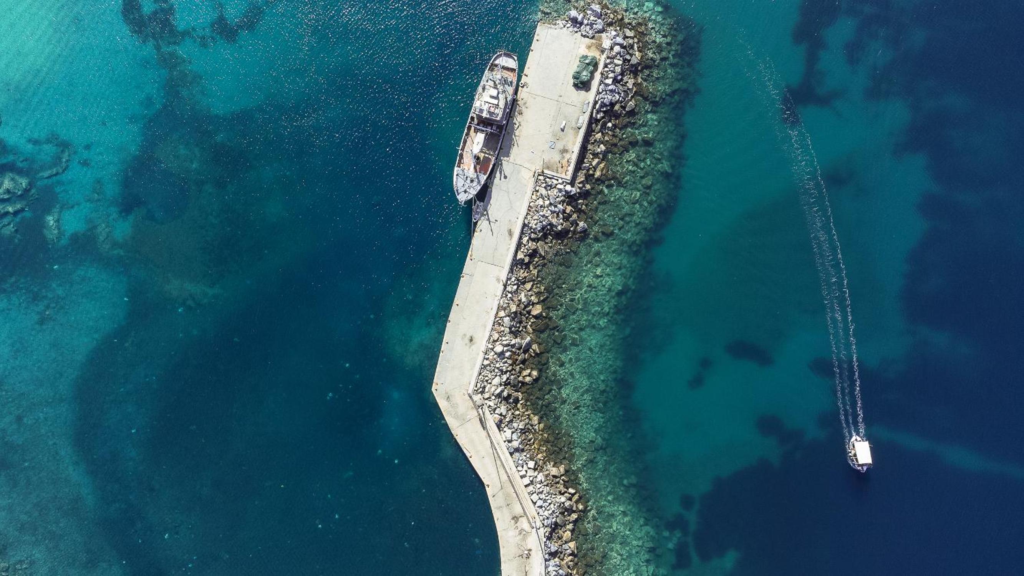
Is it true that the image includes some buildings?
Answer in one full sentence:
No, there is no building in the image.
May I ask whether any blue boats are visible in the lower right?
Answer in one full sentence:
No, I can find no blue boat in the lower right.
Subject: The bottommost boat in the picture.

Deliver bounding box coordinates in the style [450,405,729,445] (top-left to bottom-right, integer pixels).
[848,434,873,474]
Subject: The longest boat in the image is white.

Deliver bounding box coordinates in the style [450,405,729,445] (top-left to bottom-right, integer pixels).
[454,46,518,208]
